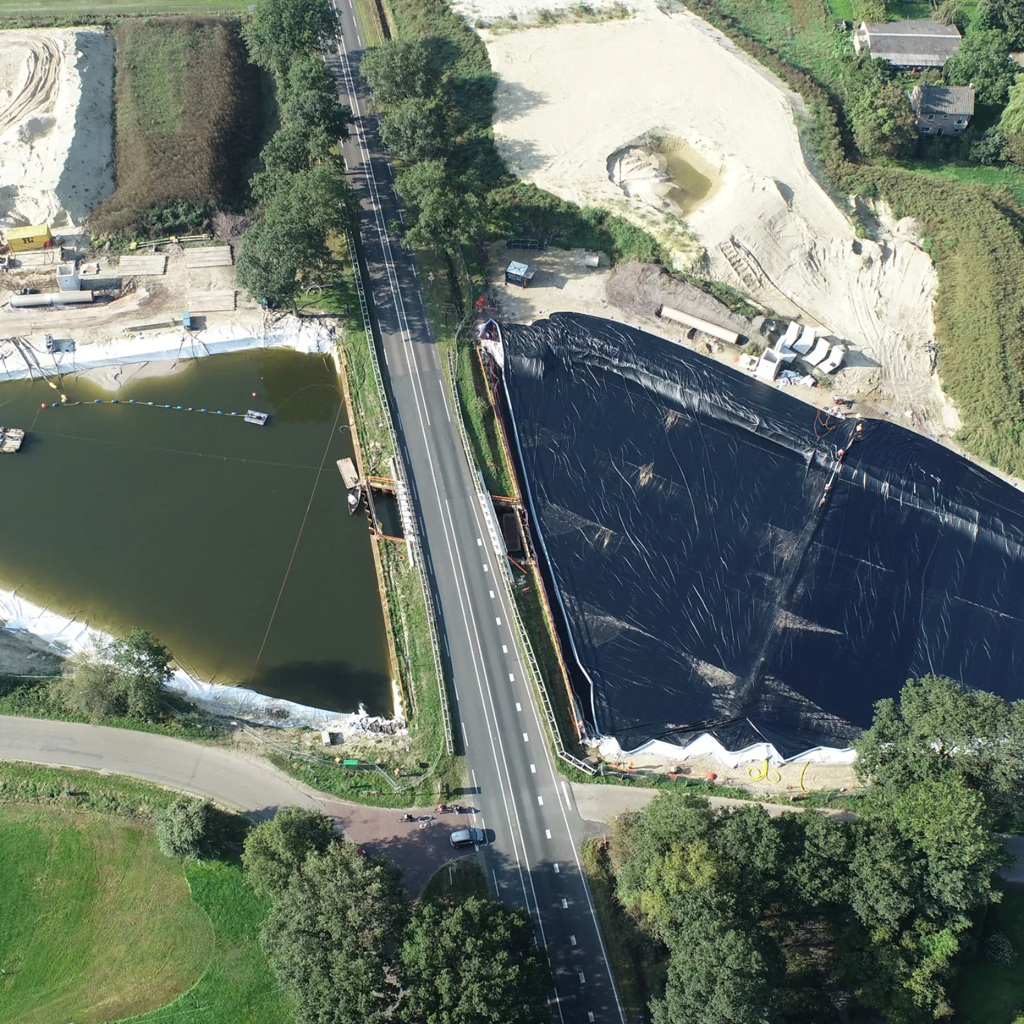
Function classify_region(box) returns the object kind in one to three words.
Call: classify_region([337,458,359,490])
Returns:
ship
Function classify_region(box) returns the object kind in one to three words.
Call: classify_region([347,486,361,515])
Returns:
boat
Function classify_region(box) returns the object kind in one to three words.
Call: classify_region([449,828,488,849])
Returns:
car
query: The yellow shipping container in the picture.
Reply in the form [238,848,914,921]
[2,222,49,250]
